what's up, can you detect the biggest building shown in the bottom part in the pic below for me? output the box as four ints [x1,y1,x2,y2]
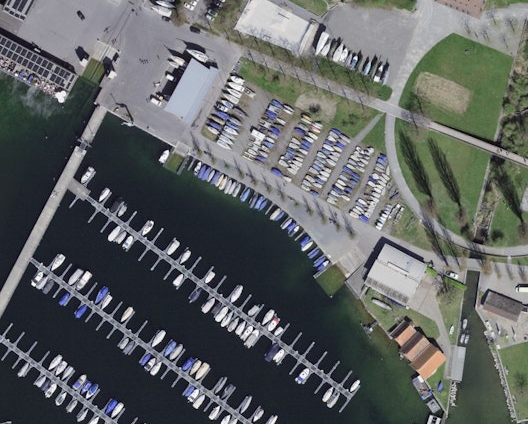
[365,242,427,307]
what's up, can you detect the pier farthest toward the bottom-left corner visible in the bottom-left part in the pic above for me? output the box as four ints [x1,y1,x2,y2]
[0,322,139,424]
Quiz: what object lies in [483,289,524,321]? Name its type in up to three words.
building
